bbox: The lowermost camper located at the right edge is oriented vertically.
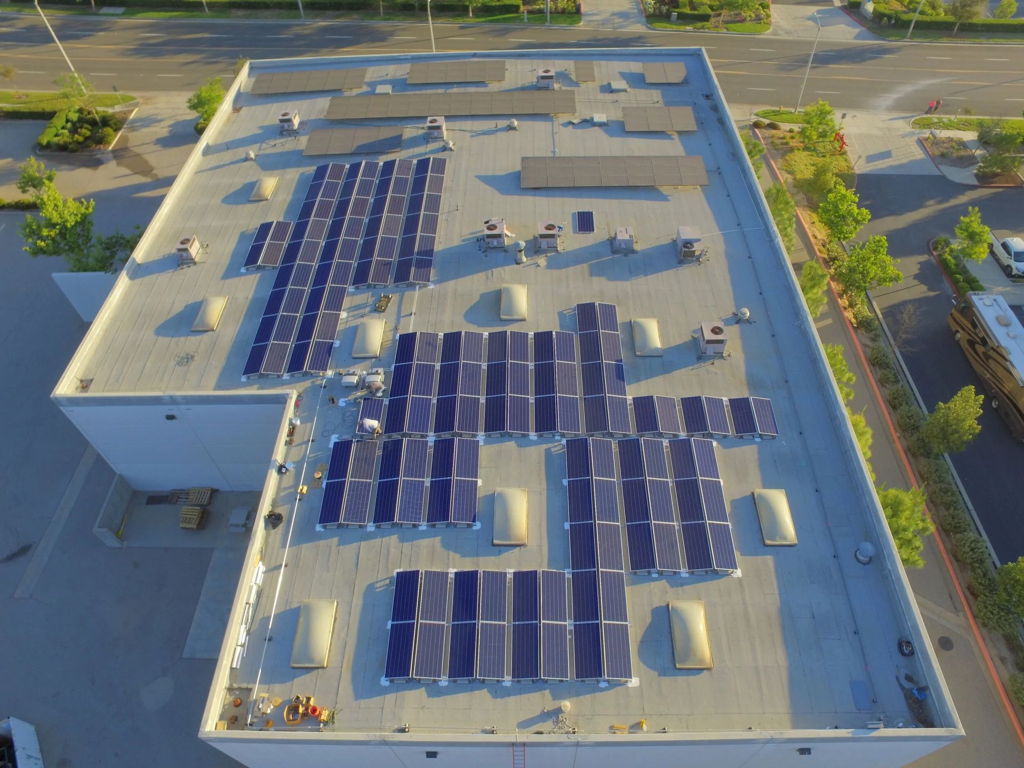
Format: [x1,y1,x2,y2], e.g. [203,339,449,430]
[950,293,1024,473]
